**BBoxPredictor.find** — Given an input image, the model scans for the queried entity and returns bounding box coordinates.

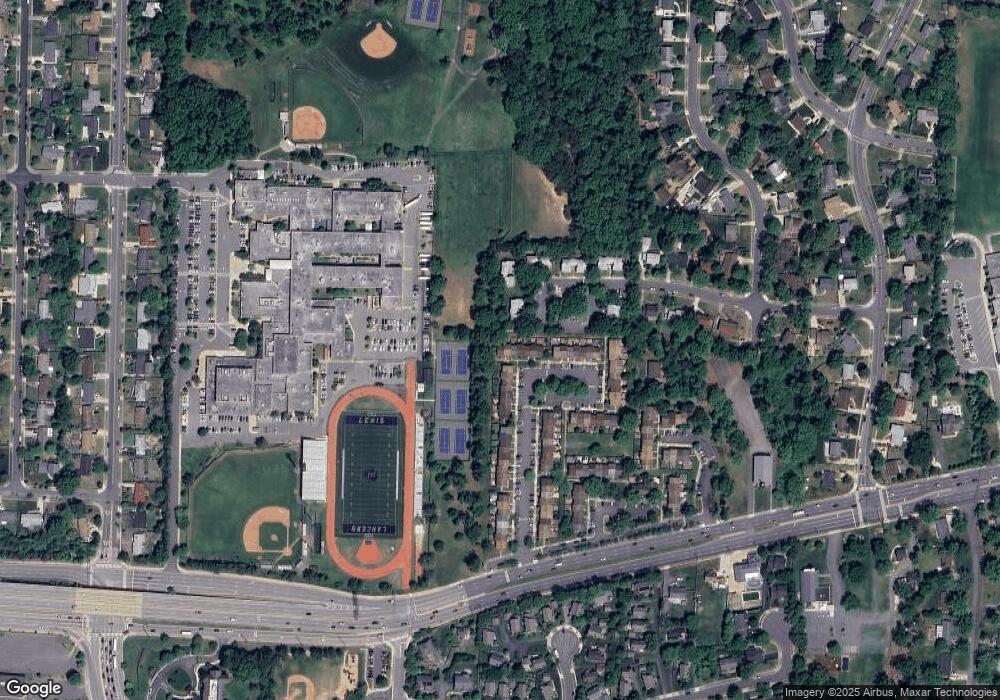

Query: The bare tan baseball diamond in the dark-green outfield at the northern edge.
[360,22,396,59]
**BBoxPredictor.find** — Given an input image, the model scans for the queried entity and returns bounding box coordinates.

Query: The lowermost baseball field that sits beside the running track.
[243,506,300,562]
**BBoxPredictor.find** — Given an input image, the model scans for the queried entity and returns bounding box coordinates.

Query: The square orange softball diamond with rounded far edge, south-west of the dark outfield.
[293,106,326,140]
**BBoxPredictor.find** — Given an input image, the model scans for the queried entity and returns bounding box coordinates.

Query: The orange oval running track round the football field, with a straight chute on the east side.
[327,361,425,590]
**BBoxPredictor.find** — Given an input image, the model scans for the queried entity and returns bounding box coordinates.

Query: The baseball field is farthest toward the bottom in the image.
[287,675,314,700]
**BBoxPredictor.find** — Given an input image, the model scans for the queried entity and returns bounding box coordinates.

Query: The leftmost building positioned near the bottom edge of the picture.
[195,668,228,700]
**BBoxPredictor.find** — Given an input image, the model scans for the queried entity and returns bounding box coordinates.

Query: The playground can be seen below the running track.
[338,653,359,700]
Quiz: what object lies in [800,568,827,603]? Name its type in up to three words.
building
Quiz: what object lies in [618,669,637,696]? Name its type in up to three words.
house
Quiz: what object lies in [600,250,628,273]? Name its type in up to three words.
house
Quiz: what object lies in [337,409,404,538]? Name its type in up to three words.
sports field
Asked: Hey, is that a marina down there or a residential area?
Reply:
residential area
